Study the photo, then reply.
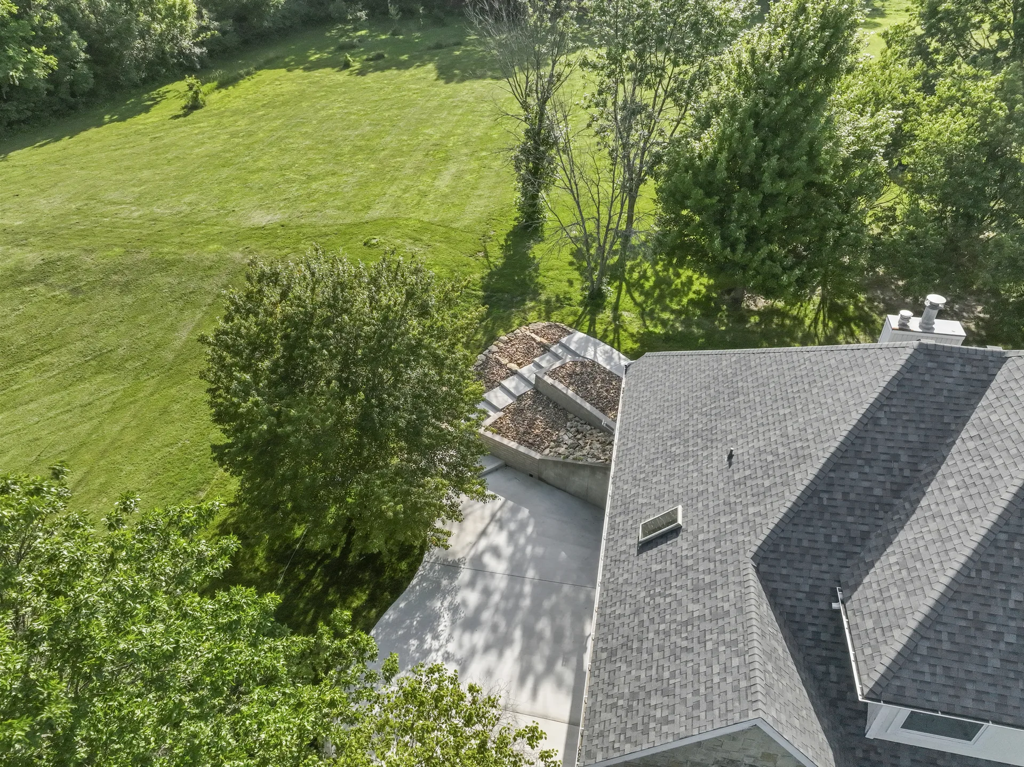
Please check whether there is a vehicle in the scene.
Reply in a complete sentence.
No, I can see no vehicle in this picture.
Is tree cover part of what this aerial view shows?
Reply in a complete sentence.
Yes, some tree cover is visible.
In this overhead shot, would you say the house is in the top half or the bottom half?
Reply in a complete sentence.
You can find the house in the bottom half.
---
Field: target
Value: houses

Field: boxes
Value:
[572,294,1024,767]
